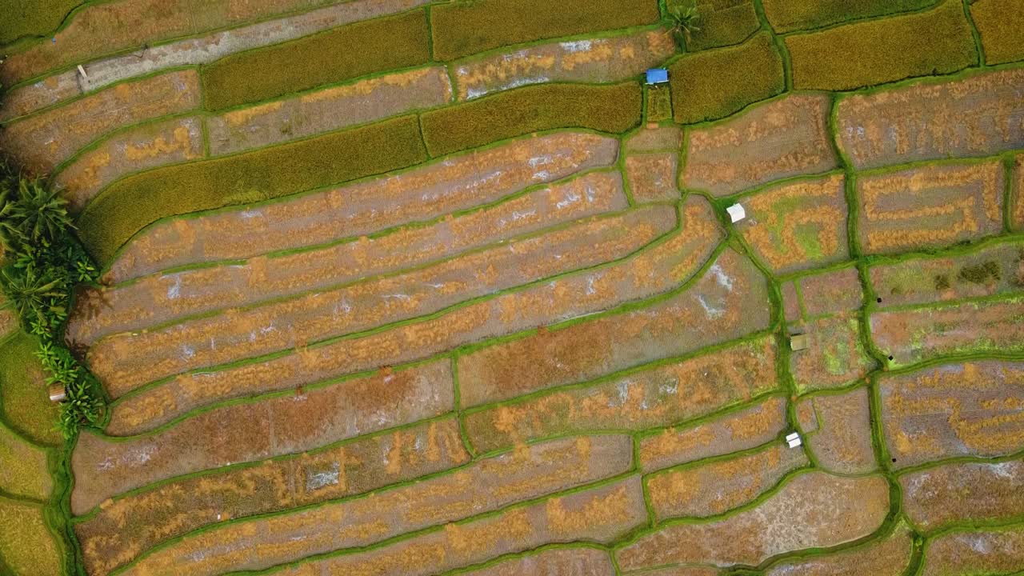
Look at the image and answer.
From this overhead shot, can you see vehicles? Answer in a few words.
No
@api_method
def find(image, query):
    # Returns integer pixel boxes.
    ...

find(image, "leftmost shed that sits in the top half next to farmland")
[645,69,668,85]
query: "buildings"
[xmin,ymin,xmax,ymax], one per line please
[725,203,744,223]
[784,431,802,449]
[50,383,70,400]
[645,69,668,85]
[789,334,808,349]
